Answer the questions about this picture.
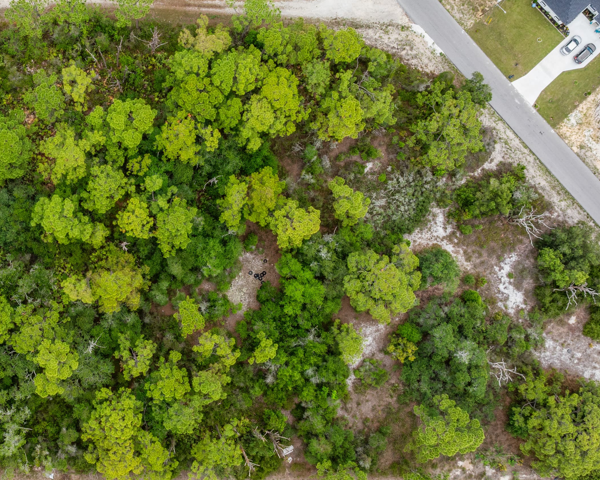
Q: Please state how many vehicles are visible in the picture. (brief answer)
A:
2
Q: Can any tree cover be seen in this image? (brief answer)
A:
Yes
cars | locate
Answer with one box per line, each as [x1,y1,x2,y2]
[562,35,583,55]
[575,42,597,64]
